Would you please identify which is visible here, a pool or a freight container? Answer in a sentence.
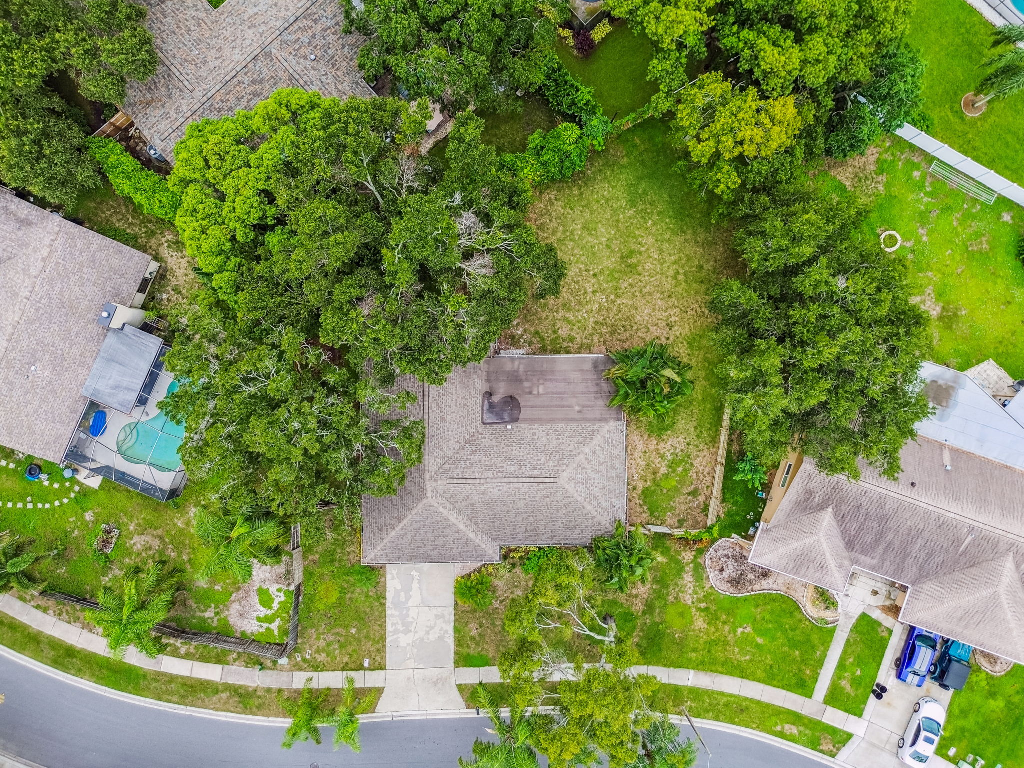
Looking from above, you can make out a pool.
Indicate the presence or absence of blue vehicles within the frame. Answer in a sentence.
Yes, you can see a blue vehicle in this photo.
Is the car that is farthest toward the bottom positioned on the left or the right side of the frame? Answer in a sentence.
The car that is farthest toward the bottom appears in the right half of the scene.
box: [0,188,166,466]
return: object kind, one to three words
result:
house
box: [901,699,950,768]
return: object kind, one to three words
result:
car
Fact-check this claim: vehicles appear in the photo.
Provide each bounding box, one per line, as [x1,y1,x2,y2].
[898,625,944,691]
[901,699,950,768]
[932,637,978,696]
